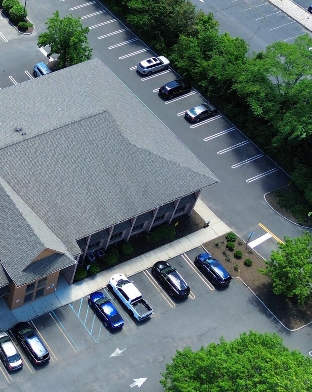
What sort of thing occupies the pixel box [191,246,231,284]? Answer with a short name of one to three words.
car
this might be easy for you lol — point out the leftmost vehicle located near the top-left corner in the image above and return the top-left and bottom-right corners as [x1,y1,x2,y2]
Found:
[30,61,51,77]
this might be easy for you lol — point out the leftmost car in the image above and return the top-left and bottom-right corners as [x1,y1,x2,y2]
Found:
[0,329,27,372]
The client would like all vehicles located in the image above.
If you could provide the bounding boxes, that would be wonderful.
[137,56,172,75]
[185,101,221,122]
[161,77,197,97]
[90,287,130,328]
[150,260,191,301]
[30,61,51,77]
[11,318,51,364]
[191,246,231,284]
[0,329,27,372]
[107,272,153,321]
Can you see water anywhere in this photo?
No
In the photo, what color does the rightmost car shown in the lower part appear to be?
blue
